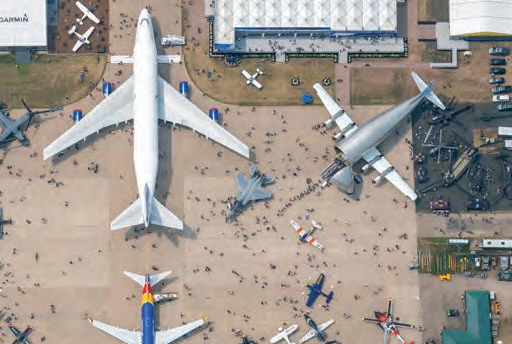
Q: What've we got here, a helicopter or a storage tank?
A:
helicopter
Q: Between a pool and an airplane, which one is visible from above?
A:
airplane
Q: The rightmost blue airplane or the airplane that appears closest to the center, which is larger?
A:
the airplane that appears closest to the center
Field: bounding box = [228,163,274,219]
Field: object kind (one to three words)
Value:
airplane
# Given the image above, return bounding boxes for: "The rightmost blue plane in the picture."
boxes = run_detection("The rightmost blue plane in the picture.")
[306,274,334,307]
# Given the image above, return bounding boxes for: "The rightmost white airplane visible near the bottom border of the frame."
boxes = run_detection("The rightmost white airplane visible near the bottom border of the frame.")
[299,313,338,344]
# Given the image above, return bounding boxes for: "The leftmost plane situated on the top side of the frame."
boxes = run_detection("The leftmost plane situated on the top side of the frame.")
[0,99,56,148]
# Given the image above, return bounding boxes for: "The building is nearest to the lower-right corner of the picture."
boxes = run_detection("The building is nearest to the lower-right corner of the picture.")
[442,291,493,344]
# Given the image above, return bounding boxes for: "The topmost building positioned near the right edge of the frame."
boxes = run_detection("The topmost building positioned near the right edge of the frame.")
[442,0,512,40]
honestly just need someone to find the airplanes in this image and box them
[240,337,256,344]
[0,99,56,148]
[90,272,205,344]
[269,322,299,344]
[292,217,323,252]
[306,274,334,307]
[317,74,440,198]
[241,67,263,90]
[10,325,32,344]
[0,206,13,239]
[228,163,274,219]
[299,313,338,344]
[75,0,101,26]
[68,24,94,52]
